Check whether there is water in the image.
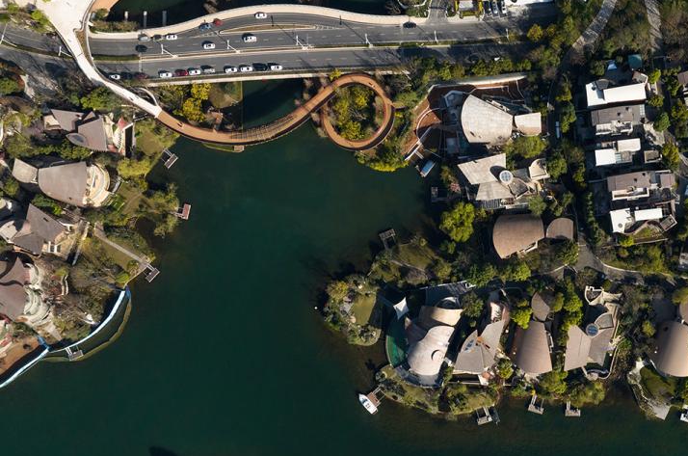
Yes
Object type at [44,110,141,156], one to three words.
house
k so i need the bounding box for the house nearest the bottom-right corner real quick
[646,303,688,378]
